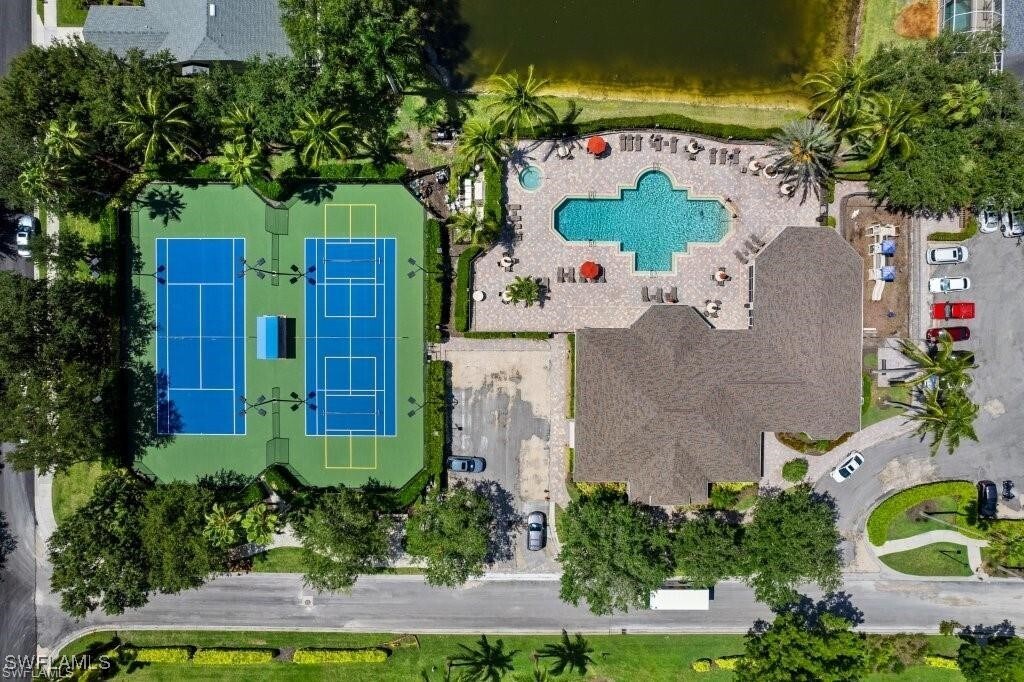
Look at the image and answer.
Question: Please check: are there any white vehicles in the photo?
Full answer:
Yes, the picture does show a white vehicle.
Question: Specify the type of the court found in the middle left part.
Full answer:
The court found in the middle left part can be classified as a tennis court.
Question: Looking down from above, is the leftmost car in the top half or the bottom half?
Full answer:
You can find the leftmost car in the top half.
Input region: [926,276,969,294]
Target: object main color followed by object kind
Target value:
white car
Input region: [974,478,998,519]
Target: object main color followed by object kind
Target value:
black car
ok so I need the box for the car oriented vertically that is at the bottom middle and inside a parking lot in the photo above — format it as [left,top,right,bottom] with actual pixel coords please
[527,509,546,550]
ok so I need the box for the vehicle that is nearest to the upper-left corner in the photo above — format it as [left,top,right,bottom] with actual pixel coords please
[17,216,39,257]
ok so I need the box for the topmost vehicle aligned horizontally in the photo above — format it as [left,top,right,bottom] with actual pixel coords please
[925,247,968,266]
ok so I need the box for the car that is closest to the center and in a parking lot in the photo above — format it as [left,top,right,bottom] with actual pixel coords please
[447,455,486,473]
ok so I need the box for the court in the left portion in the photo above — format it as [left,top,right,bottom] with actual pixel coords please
[131,183,424,488]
